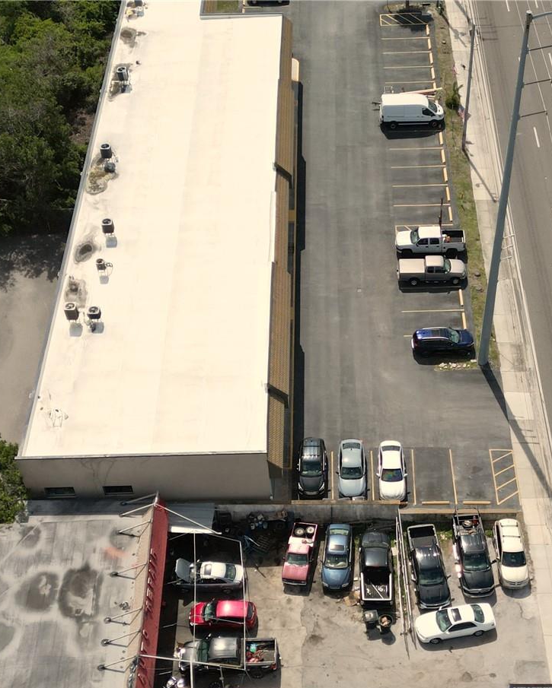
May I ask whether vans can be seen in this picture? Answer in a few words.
Yes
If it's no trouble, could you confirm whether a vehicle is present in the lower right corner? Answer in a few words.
Yes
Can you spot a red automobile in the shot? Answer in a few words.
Yes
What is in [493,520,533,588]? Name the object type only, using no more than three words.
car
